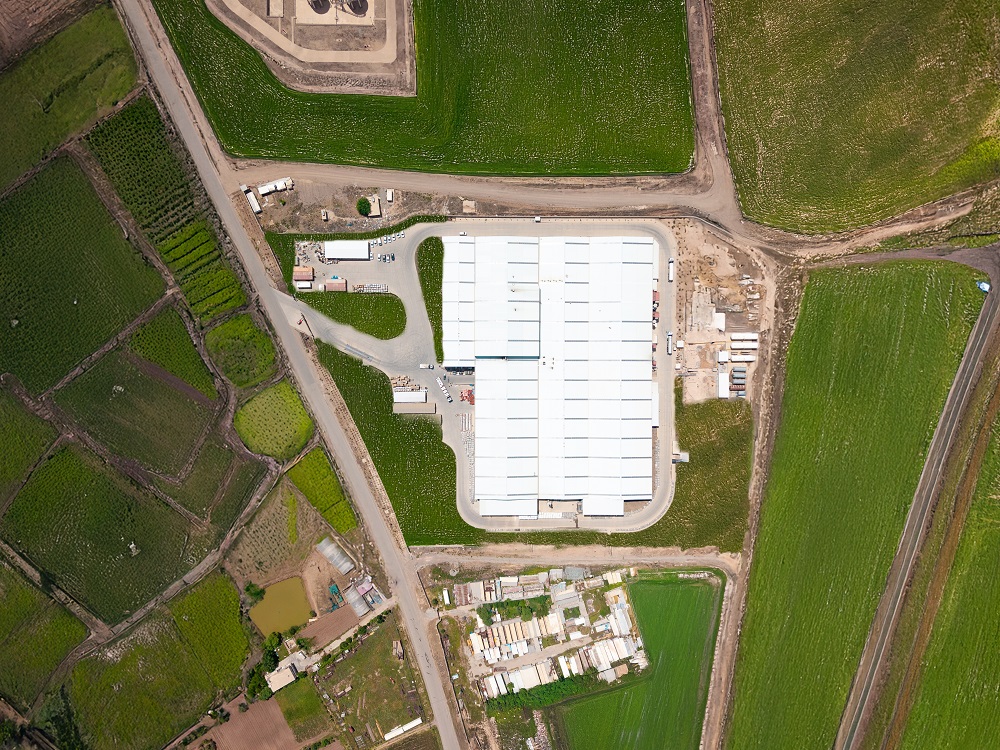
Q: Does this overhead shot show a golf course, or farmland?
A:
farmland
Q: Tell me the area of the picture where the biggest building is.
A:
center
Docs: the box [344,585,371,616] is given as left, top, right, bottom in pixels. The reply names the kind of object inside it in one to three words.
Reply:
greenhouse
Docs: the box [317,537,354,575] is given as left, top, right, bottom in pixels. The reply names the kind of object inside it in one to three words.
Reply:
greenhouse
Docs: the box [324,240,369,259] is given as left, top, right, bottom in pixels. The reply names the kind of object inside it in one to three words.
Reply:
building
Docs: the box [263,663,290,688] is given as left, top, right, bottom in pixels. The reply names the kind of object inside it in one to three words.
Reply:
house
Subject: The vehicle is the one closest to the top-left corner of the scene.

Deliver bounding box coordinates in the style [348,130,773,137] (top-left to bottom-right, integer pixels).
[241,185,258,211]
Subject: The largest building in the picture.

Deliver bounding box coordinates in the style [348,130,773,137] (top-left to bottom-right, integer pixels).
[442,236,652,499]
